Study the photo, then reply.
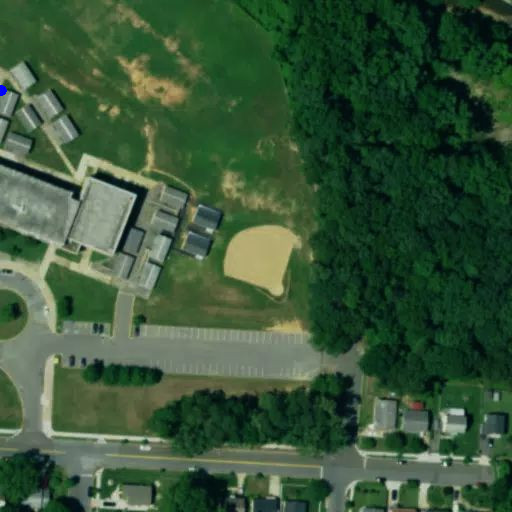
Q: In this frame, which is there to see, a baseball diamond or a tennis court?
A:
baseball diamond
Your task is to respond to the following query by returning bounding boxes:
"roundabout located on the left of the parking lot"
[0,272,44,340]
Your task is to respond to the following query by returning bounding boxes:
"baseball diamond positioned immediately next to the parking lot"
[224,225,302,296]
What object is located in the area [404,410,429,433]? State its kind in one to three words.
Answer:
house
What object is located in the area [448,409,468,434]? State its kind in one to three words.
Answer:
house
